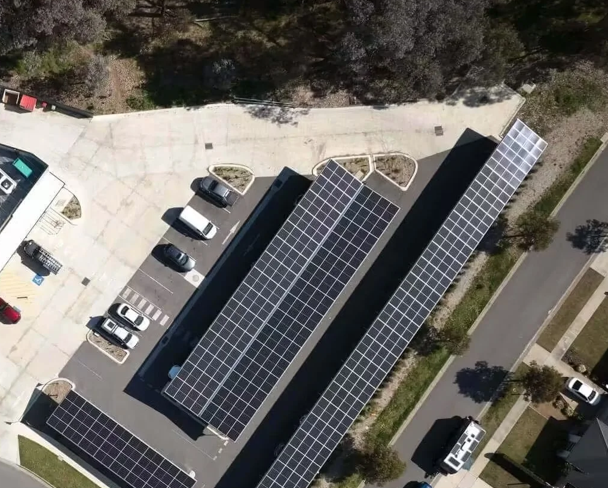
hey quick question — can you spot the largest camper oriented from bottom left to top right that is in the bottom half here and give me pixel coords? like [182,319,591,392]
[429,417,483,475]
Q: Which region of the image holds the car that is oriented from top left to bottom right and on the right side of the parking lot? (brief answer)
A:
bottom right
